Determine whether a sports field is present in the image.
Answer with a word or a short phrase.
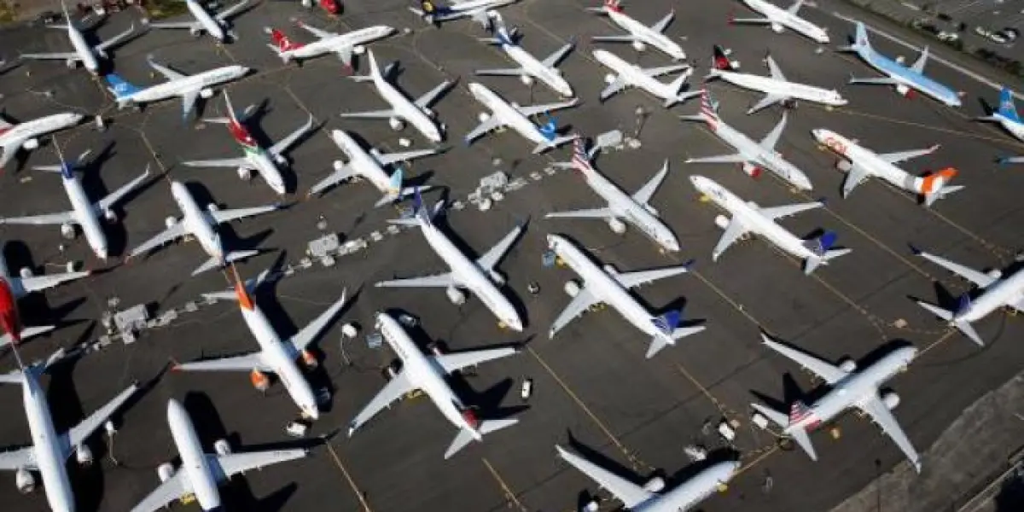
No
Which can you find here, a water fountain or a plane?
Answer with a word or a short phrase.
plane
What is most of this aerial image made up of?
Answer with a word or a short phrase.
paved ground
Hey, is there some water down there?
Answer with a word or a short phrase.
No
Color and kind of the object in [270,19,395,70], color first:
white airplane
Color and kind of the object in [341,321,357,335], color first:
white work vehicle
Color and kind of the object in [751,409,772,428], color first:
white vehicle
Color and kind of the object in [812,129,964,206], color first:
white airplane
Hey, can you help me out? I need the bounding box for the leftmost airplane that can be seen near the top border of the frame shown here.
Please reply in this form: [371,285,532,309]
[19,3,137,77]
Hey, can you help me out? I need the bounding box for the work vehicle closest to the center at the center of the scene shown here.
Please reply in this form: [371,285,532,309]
[526,283,540,296]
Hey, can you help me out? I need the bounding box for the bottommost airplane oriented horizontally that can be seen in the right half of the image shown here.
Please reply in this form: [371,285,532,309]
[560,436,739,512]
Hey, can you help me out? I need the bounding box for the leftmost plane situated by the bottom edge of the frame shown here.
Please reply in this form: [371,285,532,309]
[0,342,145,512]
